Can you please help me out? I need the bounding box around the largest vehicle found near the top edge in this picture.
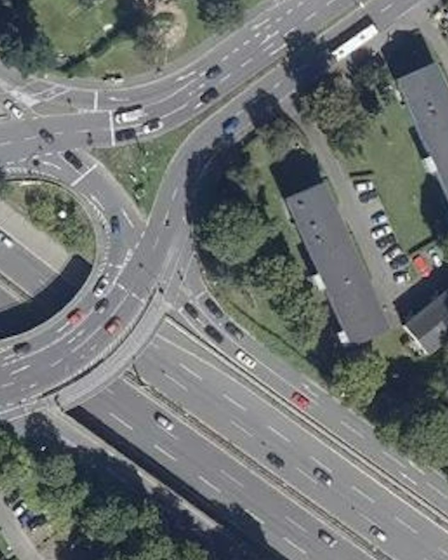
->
[326,24,379,57]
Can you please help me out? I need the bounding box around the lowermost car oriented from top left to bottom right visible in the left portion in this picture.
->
[153,413,174,431]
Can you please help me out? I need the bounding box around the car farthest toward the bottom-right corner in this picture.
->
[367,524,388,542]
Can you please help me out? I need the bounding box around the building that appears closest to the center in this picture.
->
[282,183,388,351]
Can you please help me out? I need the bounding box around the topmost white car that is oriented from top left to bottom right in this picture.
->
[4,100,25,120]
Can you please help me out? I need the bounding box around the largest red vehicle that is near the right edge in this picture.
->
[412,254,431,279]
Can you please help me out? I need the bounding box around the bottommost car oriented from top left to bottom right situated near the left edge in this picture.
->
[0,231,15,249]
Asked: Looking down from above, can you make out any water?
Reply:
No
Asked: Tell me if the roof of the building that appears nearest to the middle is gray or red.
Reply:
gray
